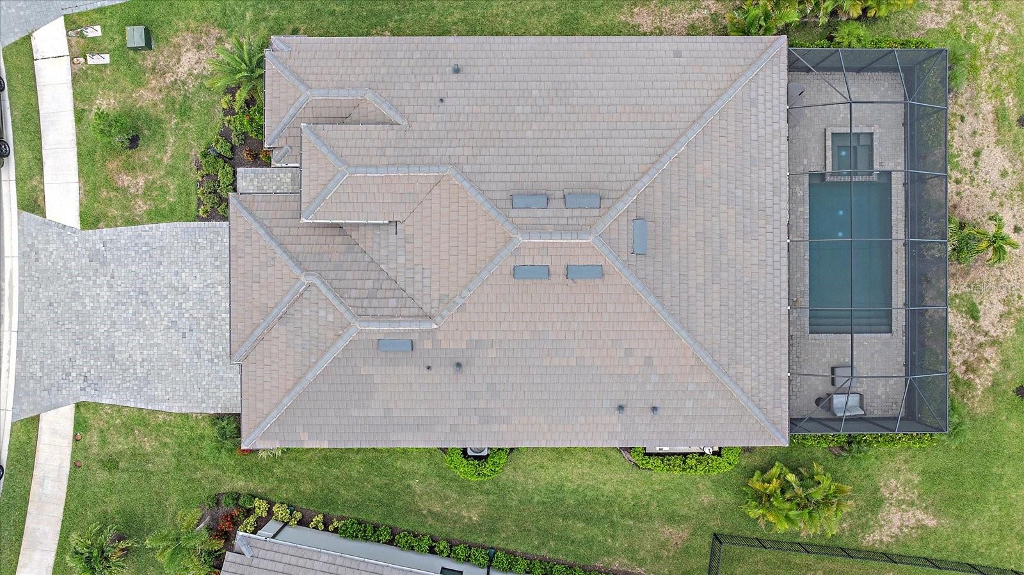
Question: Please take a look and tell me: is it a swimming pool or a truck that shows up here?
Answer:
swimming pool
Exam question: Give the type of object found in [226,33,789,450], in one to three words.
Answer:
house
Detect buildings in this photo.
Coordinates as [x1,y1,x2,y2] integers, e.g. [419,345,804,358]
[219,517,513,575]
[226,33,789,450]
